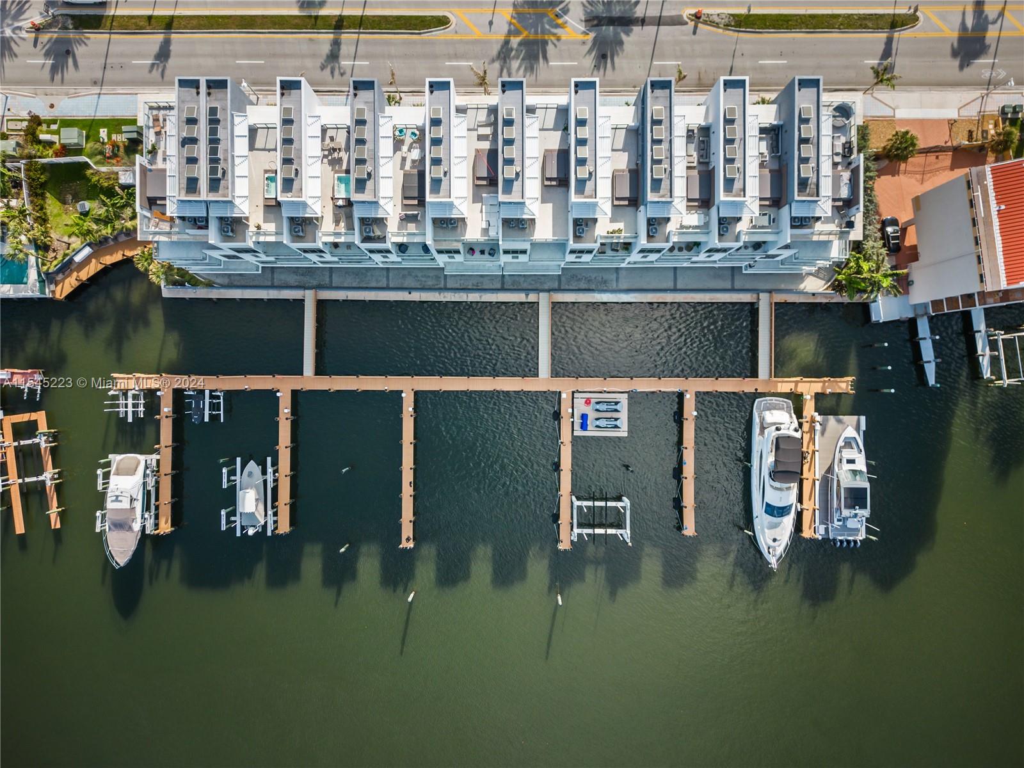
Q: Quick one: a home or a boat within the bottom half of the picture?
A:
boat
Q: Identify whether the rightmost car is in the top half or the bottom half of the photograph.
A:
top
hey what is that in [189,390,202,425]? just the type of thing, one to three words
boat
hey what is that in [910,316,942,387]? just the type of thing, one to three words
pier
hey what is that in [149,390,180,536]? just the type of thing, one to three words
pier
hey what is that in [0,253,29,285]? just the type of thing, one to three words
swimming pool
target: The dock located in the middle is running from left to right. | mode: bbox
[112,375,854,395]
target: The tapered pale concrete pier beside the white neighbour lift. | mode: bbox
[963,315,998,379]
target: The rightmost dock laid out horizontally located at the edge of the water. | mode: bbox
[866,294,932,323]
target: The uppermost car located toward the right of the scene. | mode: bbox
[878,215,901,255]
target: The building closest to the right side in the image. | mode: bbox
[908,156,1024,324]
